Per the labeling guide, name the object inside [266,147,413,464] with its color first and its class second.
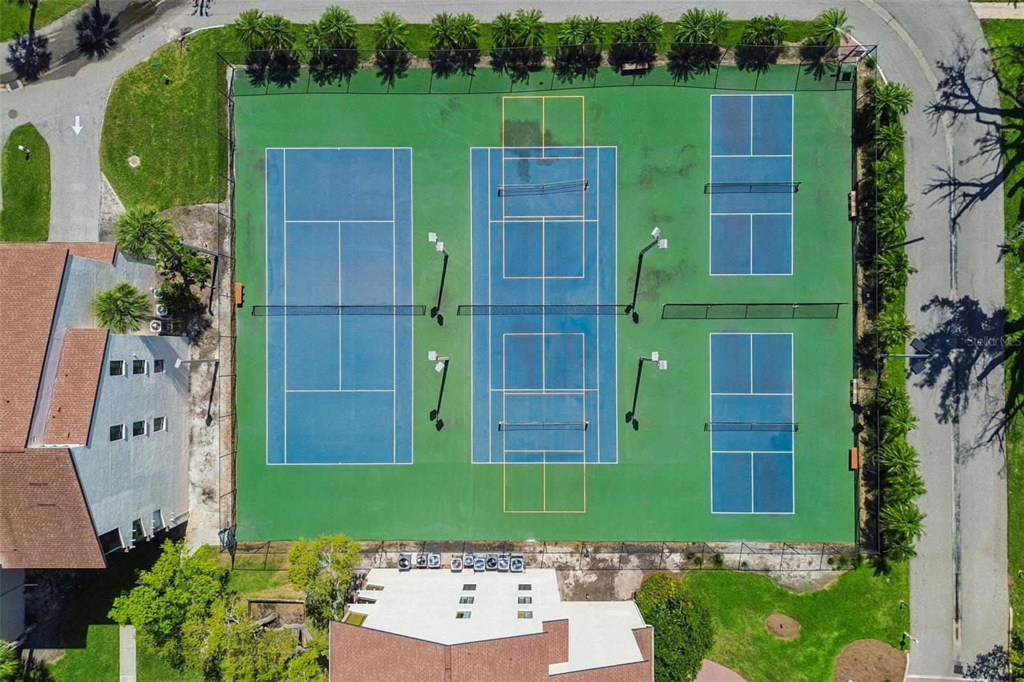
blue tennis court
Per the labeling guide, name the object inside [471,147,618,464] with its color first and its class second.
blue tennis court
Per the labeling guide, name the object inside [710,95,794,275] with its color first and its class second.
blue sports court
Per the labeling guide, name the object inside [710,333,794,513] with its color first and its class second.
blue sports court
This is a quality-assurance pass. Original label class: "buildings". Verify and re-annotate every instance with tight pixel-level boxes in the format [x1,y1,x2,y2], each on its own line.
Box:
[0,241,190,568]
[327,569,655,682]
